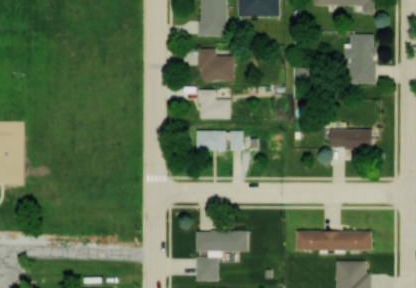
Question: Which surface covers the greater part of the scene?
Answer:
grass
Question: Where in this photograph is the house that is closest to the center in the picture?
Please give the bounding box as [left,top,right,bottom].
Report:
[196,130,226,151]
